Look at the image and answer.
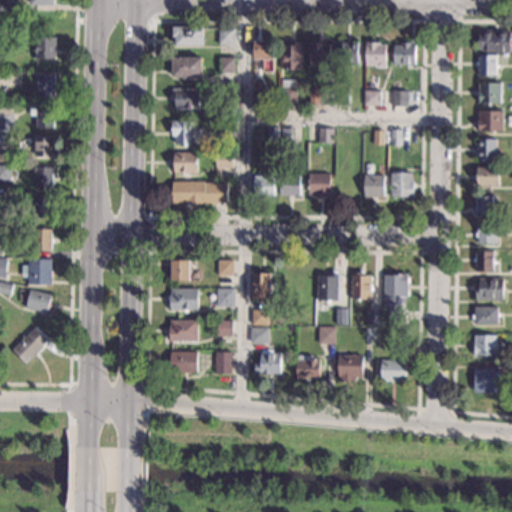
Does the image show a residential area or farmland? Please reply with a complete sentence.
The picture captures a residential area.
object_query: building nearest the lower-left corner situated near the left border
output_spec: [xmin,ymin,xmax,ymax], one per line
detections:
[13,327,52,364]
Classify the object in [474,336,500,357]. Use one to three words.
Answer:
house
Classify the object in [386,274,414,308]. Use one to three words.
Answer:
house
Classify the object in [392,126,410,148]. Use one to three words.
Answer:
building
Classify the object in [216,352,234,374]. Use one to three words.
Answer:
building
